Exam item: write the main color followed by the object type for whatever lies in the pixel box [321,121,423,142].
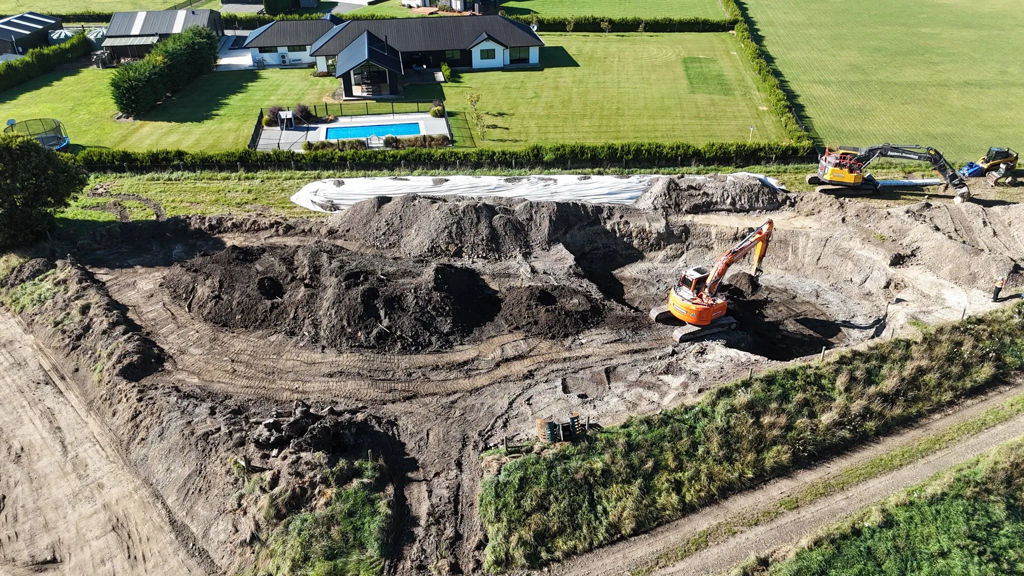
blue swimming pool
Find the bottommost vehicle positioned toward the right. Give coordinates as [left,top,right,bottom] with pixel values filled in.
[650,212,779,347]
